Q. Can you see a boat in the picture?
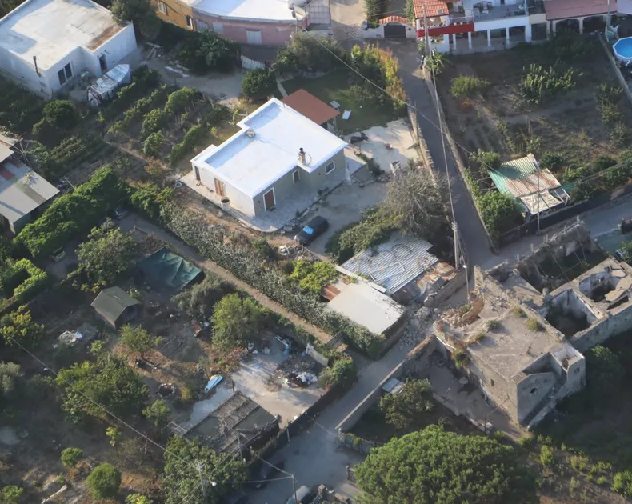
Yes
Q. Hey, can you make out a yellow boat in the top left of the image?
No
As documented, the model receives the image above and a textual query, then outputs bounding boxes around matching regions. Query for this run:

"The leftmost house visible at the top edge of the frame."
[0,0,136,99]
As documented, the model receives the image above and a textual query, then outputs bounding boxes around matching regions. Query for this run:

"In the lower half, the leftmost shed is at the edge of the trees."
[94,288,140,334]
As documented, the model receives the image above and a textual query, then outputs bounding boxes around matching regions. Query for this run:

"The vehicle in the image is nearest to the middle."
[295,216,328,246]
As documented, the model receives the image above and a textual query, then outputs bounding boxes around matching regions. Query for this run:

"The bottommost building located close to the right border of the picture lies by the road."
[436,213,632,430]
